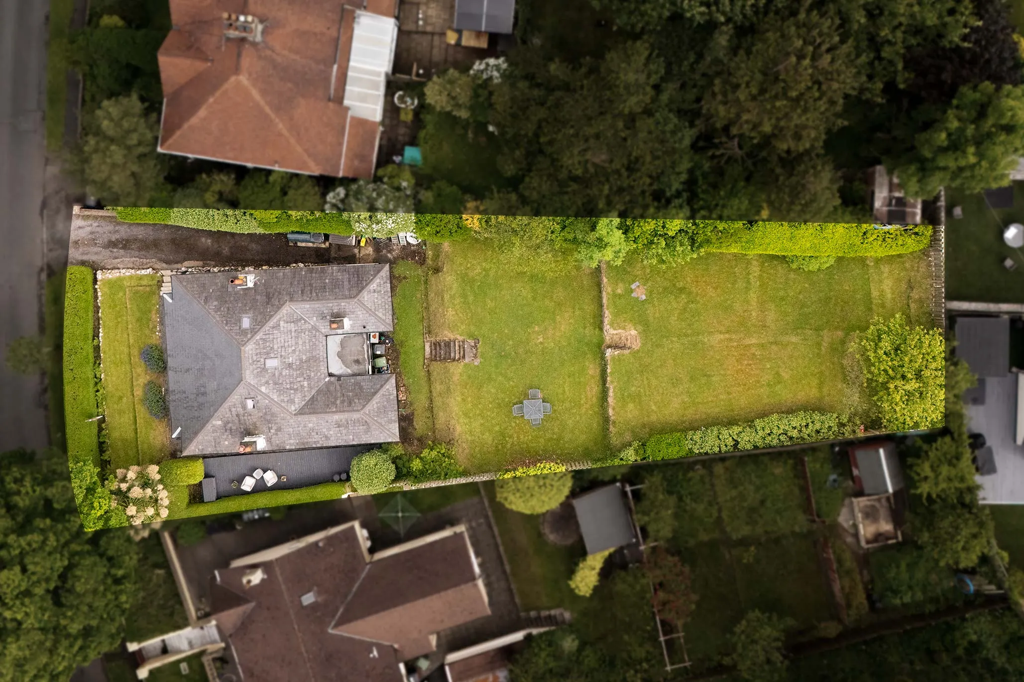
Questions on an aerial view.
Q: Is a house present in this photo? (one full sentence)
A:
Yes, a house can be made out from above.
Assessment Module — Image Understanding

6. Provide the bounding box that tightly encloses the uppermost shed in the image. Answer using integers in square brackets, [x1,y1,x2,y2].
[454,0,515,48]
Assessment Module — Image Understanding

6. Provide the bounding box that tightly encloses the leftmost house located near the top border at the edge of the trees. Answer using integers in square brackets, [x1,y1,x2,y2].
[157,0,401,182]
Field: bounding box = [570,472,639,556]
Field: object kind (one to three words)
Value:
shed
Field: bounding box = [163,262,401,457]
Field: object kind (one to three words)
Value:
house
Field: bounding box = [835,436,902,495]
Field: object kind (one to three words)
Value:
shed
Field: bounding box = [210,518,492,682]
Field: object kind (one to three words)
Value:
house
